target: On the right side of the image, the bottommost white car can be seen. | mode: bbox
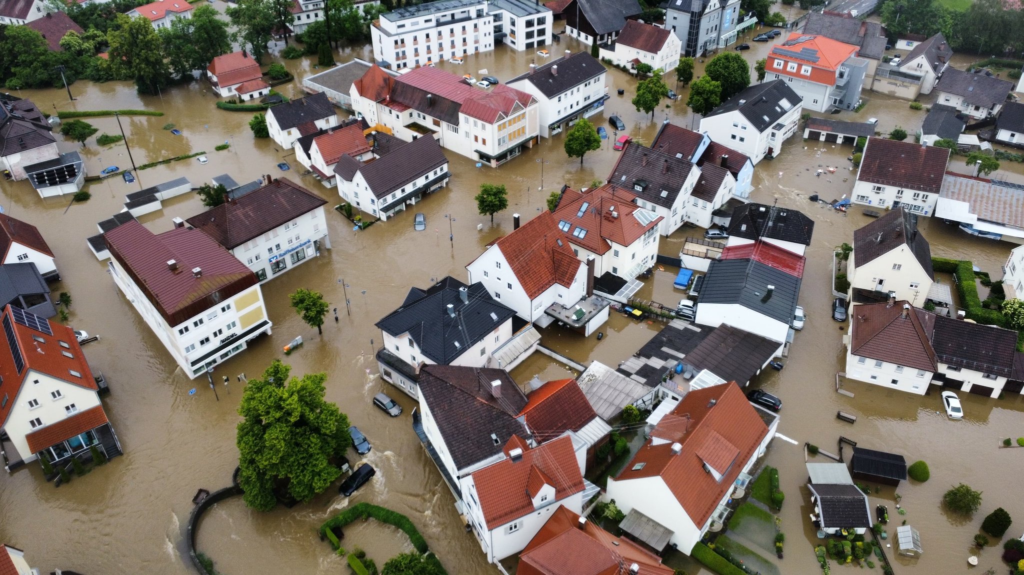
[939,394,963,422]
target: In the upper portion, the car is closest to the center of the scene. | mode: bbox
[414,213,426,232]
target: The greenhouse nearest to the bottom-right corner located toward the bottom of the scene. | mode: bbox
[891,523,923,558]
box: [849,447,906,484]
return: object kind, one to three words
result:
shed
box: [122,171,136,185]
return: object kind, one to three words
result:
car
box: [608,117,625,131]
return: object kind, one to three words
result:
car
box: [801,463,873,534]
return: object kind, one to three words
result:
house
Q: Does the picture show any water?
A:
Yes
